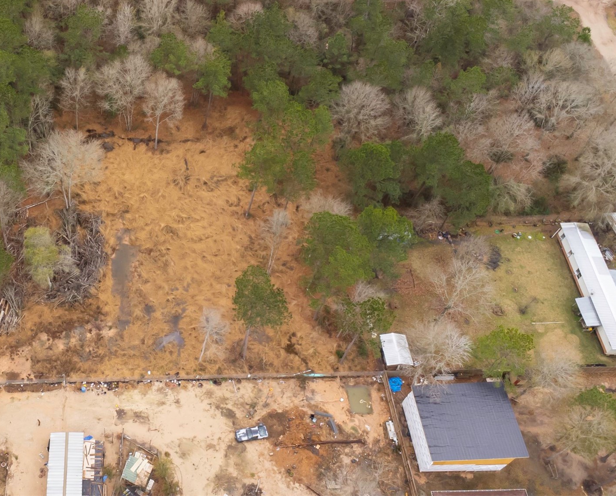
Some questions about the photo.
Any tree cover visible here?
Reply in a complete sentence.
Yes, tree cover shows up in the scene.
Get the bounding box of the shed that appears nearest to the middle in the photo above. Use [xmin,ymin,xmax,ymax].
[377,334,413,371]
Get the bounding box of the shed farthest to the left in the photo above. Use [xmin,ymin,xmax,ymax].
[46,432,84,496]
